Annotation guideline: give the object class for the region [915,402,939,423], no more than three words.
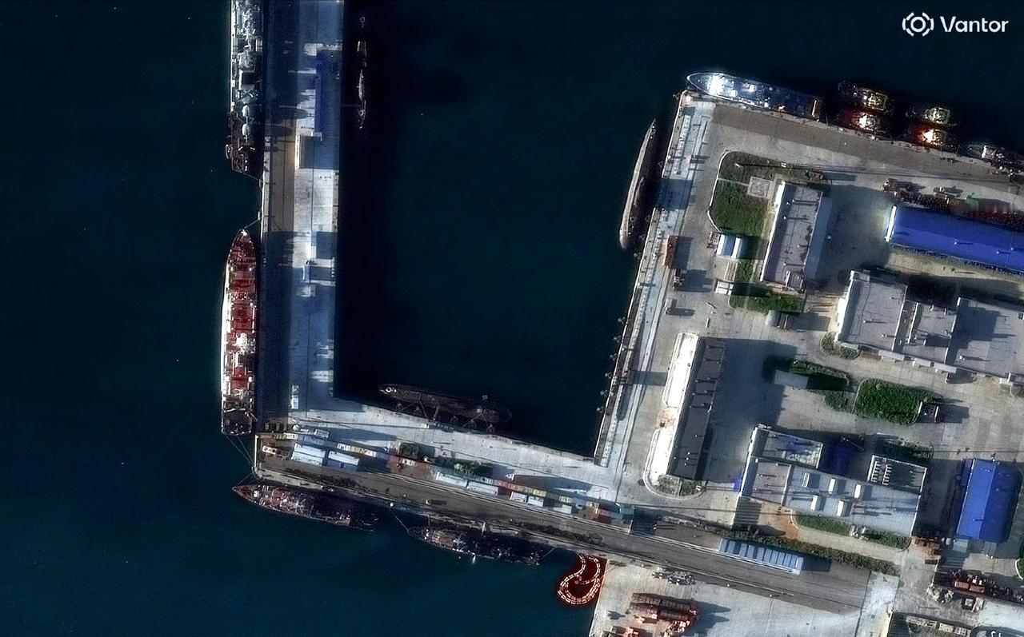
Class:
shed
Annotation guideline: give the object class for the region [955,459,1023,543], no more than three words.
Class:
building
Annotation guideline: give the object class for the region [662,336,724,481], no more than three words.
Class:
building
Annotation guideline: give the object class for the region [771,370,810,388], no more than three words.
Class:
shed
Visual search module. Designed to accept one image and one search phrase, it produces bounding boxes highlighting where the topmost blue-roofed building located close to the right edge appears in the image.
[887,207,1024,273]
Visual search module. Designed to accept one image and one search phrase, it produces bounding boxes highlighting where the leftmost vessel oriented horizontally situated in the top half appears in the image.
[687,72,824,118]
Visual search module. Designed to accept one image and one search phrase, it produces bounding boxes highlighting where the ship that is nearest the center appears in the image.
[377,387,509,421]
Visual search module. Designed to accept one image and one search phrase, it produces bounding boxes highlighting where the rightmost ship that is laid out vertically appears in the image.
[621,121,657,248]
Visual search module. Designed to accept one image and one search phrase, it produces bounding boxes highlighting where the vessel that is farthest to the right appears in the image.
[966,143,1024,169]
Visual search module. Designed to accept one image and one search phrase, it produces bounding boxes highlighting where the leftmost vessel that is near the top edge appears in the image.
[231,0,264,173]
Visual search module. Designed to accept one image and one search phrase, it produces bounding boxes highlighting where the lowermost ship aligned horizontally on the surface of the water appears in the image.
[407,524,551,569]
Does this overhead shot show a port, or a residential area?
port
